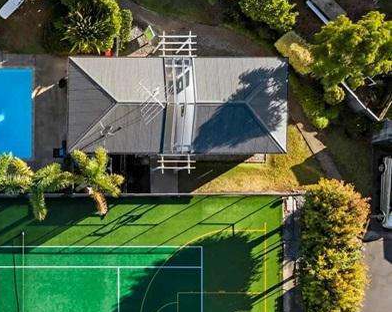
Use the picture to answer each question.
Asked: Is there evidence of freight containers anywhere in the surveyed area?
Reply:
No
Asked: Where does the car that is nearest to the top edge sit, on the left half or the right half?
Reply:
right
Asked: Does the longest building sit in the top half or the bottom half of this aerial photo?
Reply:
top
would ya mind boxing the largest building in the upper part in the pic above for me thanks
[64,55,288,163]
